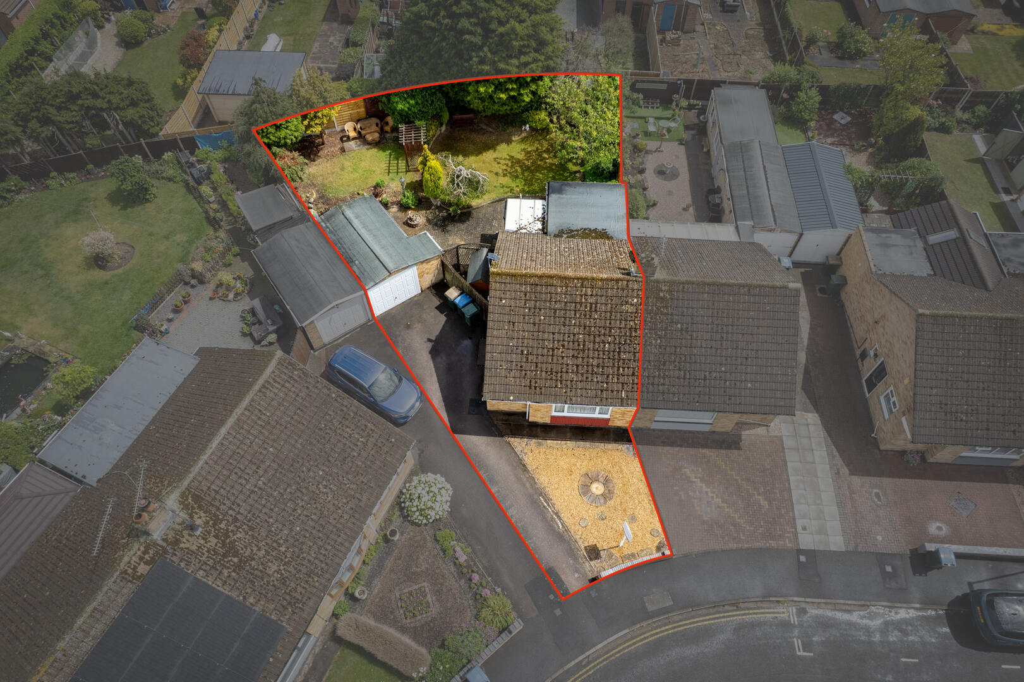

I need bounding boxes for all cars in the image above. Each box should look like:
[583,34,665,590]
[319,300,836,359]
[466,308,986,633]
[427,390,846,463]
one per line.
[964,591,1024,648]
[322,340,425,425]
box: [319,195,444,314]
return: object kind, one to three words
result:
building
